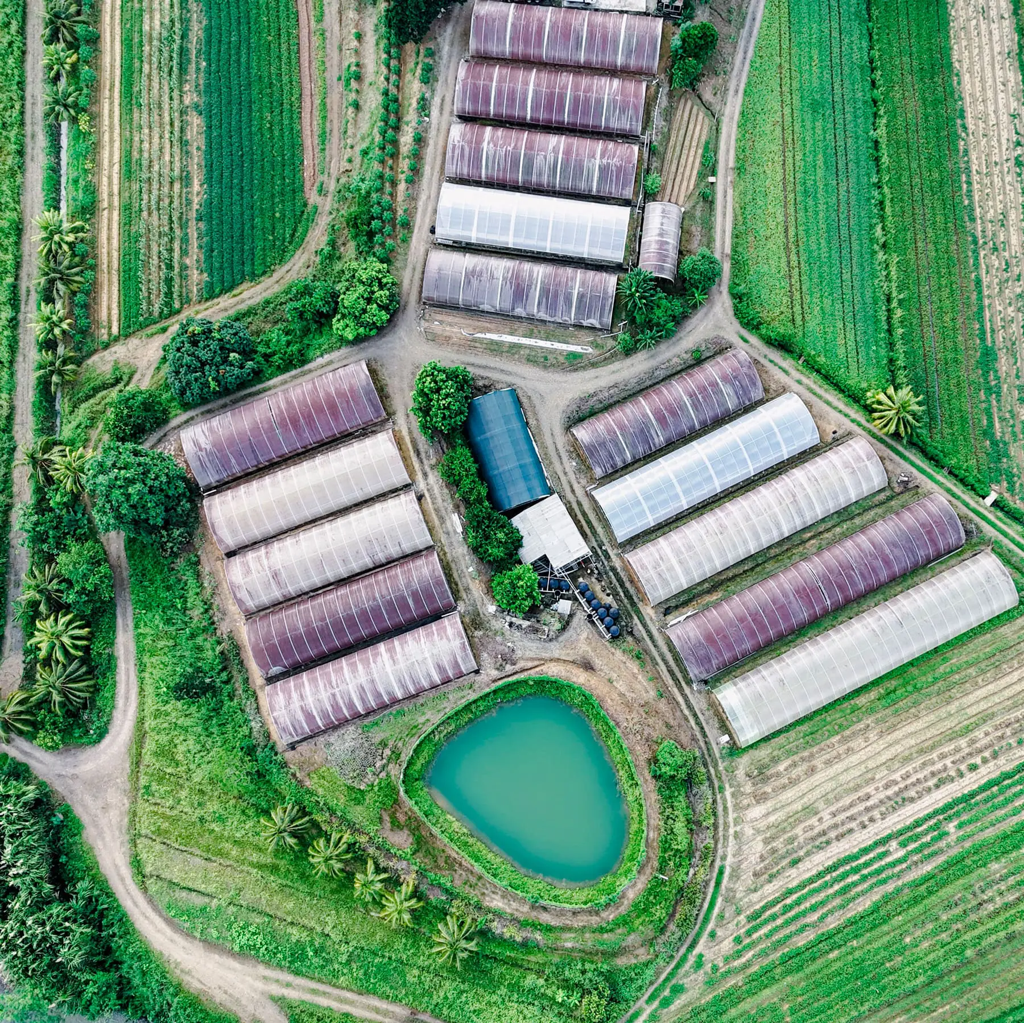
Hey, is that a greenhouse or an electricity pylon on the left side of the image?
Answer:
greenhouse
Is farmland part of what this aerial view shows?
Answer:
Yes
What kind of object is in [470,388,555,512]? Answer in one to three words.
building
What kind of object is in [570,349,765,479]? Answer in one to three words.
greenhouse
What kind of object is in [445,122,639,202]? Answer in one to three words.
greenhouse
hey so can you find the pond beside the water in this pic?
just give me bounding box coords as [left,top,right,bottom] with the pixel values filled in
[426,692,631,887]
